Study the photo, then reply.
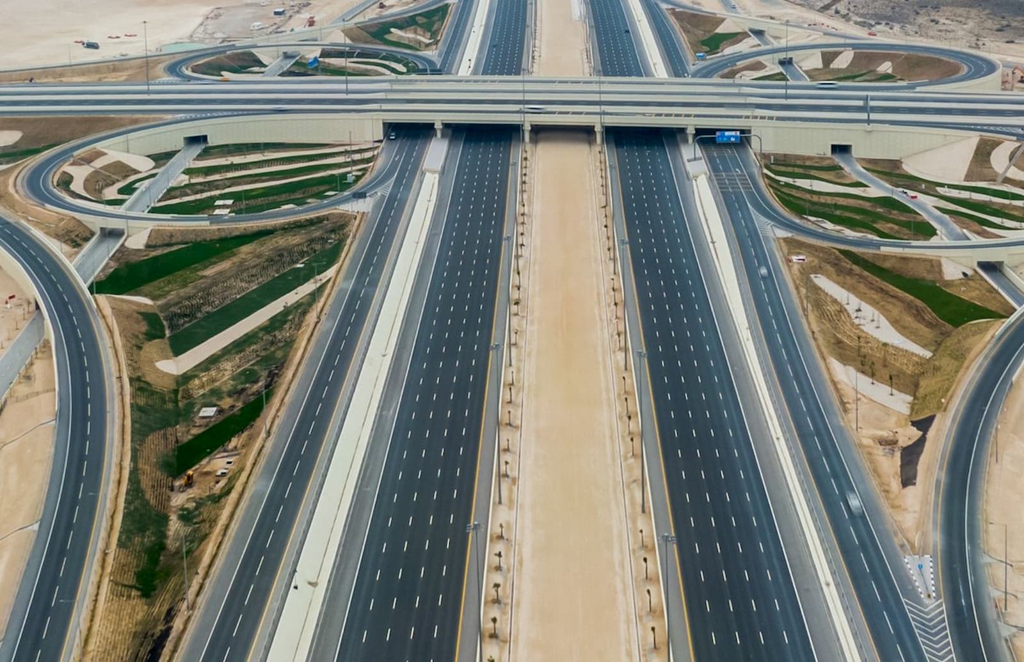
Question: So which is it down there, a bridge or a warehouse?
bridge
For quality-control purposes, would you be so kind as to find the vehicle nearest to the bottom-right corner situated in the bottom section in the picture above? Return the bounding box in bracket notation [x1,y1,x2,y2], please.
[848,497,862,510]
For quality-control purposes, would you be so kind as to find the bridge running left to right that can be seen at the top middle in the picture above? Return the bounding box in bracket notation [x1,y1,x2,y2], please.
[383,75,754,152]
